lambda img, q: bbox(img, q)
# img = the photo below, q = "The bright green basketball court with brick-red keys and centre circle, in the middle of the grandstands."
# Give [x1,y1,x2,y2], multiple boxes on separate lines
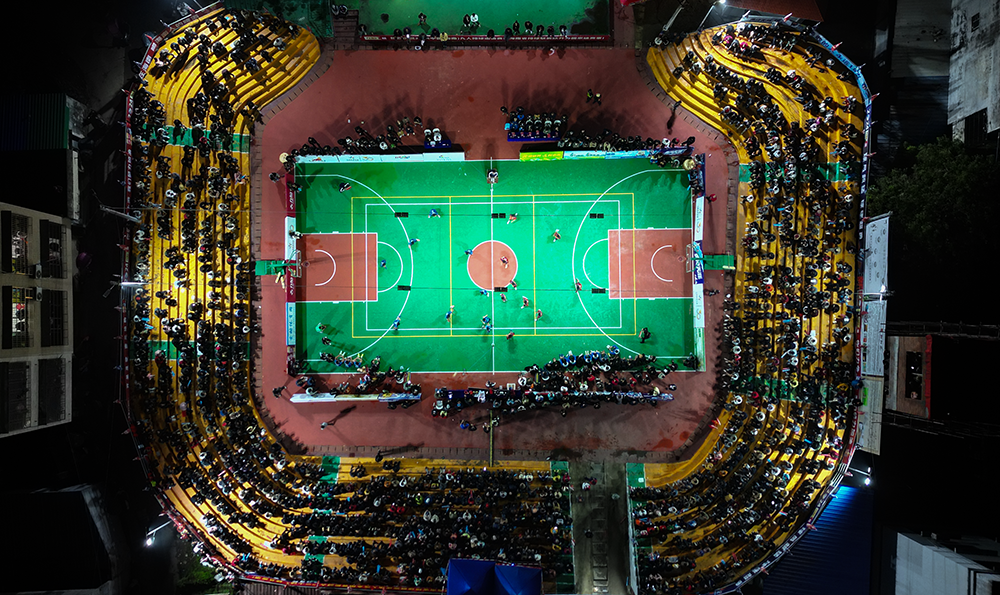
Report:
[294,157,696,374]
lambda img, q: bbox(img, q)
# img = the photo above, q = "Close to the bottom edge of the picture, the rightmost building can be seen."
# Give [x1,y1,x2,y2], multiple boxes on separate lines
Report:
[896,532,1000,595]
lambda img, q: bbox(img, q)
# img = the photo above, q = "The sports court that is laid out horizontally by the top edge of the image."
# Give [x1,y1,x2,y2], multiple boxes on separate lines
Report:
[359,0,612,33]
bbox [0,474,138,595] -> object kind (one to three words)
building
